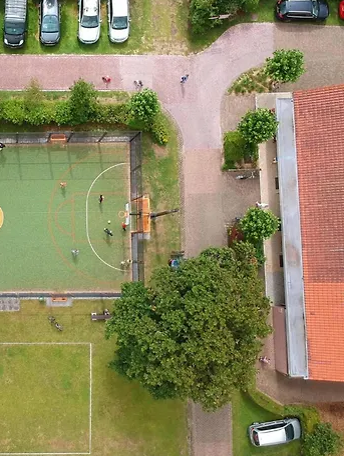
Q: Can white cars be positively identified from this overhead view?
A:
Yes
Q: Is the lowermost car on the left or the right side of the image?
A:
right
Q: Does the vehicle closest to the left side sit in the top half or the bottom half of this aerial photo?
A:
top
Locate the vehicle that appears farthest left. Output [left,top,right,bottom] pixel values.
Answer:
[3,0,28,49]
